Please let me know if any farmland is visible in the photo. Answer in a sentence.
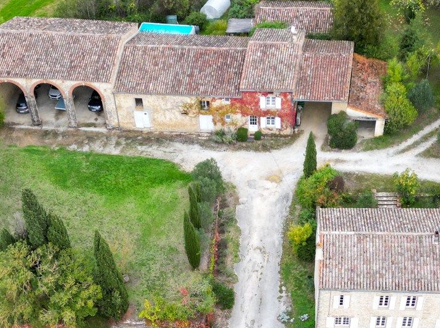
No, the scene doesn't show any farmland.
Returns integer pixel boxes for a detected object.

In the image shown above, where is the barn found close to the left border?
[0,16,141,129]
